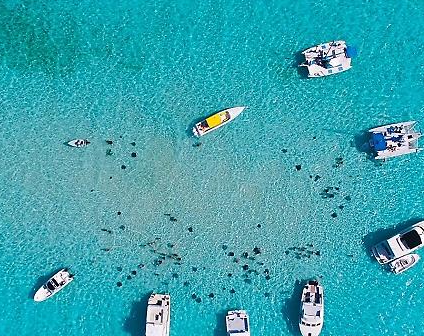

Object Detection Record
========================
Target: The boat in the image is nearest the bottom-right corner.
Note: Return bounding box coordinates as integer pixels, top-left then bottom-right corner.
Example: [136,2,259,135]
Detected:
[388,256,420,274]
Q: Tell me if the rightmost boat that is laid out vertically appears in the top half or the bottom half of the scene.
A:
bottom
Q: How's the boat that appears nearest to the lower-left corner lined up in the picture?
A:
on a diagonal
